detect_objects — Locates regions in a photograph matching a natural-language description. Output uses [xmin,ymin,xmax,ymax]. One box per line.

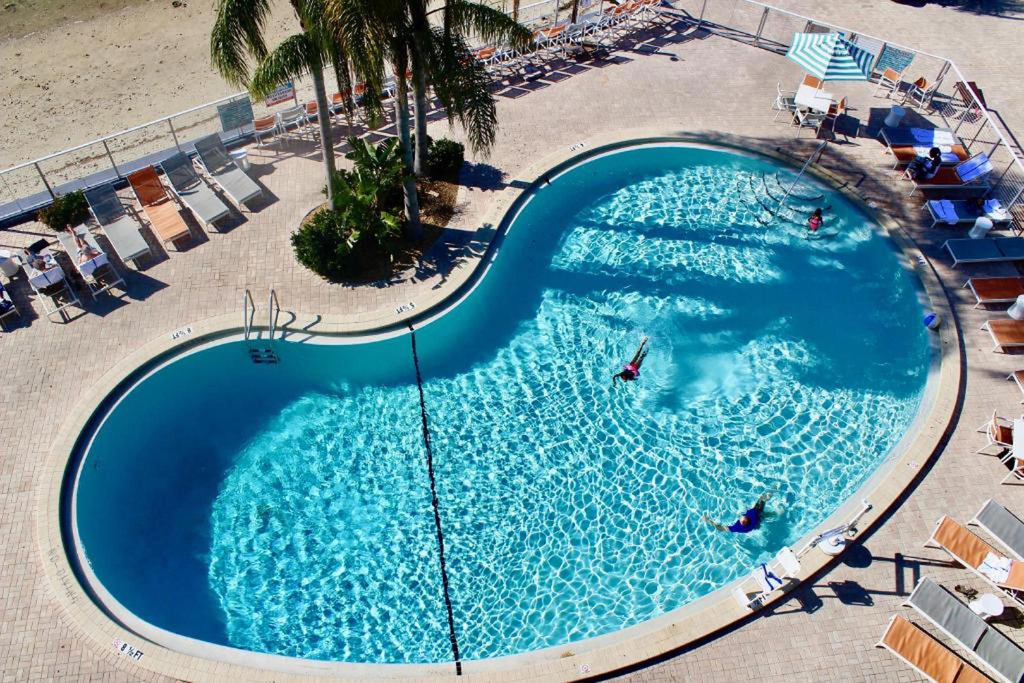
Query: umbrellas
[786,27,874,97]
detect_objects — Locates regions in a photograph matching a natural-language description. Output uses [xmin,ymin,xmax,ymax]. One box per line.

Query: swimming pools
[77,147,927,667]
